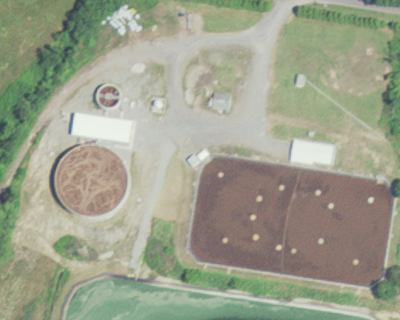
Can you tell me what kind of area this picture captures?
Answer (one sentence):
This looks like an industrial area.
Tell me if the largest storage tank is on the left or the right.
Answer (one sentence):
It is on the left.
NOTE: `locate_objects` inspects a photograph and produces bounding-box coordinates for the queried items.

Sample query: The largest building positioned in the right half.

[291,138,336,166]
